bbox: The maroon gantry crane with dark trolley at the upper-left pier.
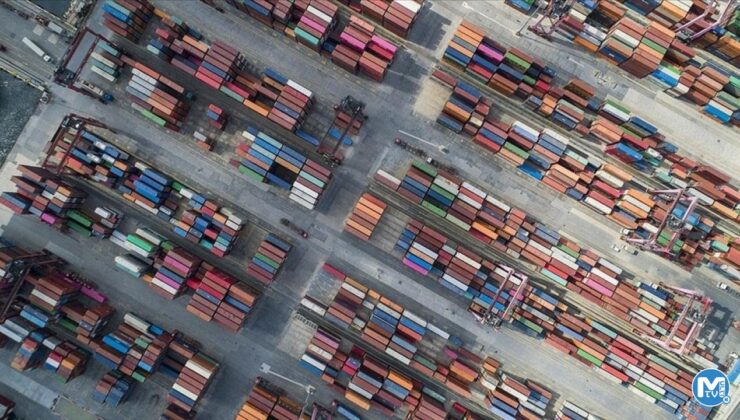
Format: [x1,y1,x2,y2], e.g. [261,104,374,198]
[50,23,127,100]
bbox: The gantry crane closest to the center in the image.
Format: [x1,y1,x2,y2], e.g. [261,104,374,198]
[316,98,366,166]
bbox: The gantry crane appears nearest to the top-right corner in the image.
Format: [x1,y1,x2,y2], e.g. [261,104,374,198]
[676,0,736,45]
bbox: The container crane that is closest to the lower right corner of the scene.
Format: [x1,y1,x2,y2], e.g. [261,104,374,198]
[638,285,718,357]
